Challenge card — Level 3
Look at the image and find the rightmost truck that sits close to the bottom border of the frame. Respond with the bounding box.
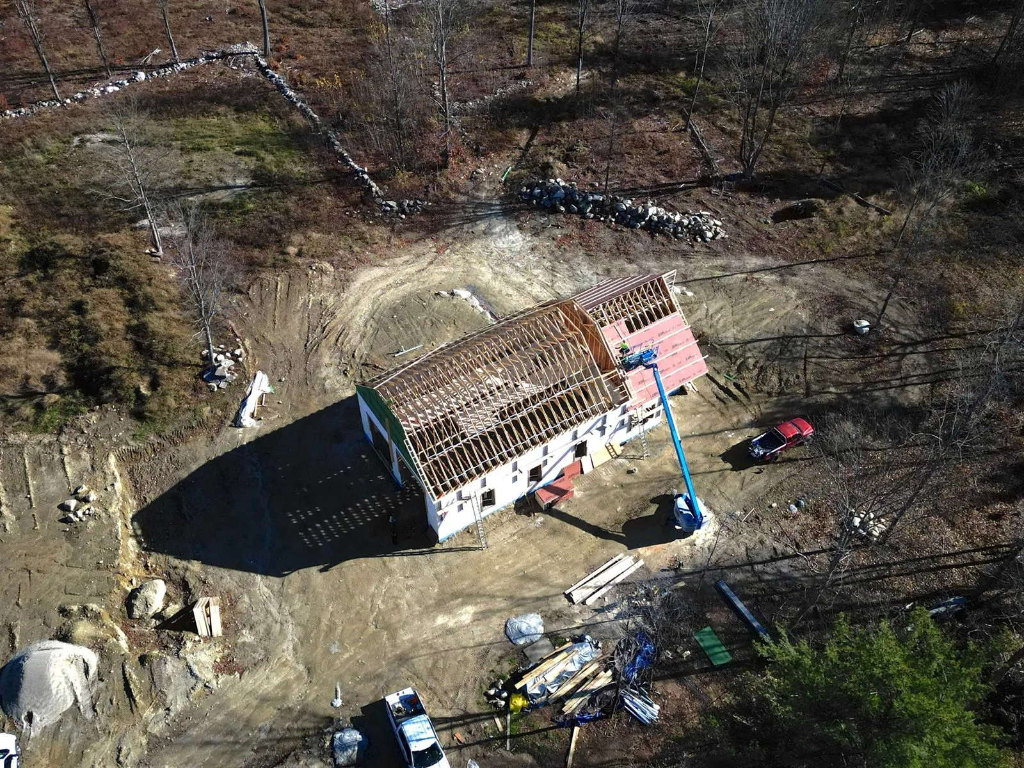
[381,681,446,768]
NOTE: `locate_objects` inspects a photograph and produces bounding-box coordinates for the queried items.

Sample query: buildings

[353,272,713,543]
